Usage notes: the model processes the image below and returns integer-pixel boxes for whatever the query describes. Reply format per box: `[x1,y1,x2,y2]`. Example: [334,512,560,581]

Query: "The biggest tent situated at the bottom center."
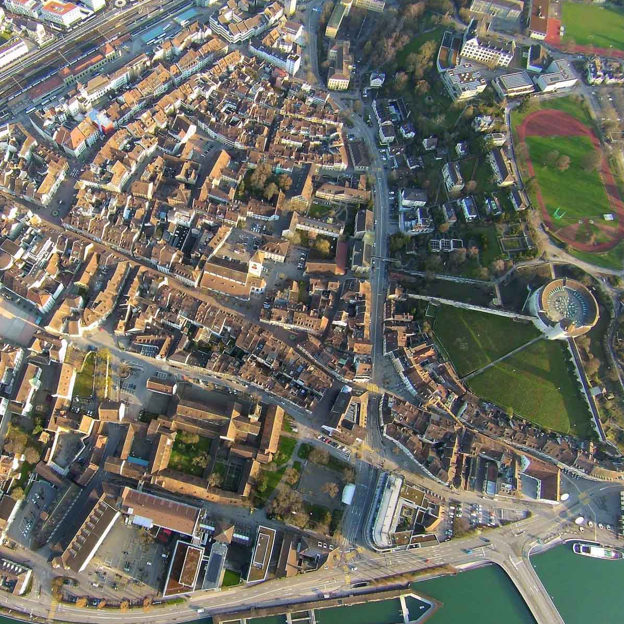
[338,484,355,507]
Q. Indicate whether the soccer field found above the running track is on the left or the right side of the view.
right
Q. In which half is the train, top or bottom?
top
